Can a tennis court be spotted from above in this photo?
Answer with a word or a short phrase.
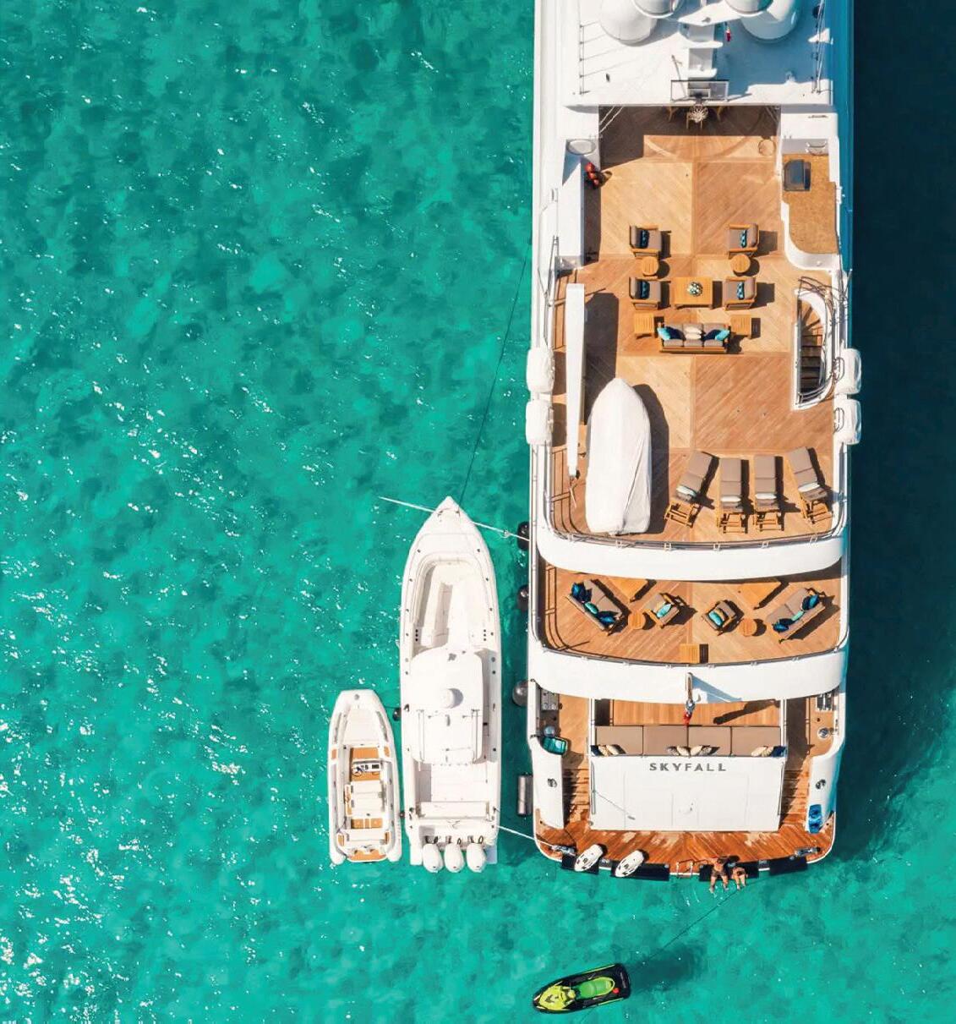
No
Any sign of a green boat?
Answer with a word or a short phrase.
Yes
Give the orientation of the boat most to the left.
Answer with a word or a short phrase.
vertically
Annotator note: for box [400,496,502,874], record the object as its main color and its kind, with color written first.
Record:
white boat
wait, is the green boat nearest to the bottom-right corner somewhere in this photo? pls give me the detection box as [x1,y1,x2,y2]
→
[535,960,632,1010]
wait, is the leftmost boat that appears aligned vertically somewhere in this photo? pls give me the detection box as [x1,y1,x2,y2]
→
[329,690,401,863]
